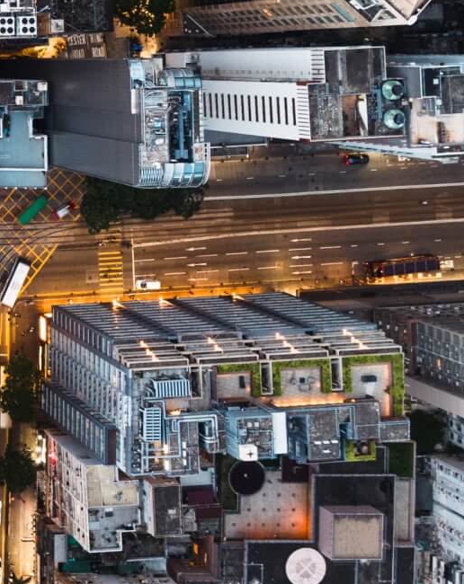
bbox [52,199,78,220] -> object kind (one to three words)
car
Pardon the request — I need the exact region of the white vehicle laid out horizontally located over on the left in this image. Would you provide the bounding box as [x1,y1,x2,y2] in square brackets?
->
[134,277,163,290]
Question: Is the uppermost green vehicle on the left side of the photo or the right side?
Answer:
left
